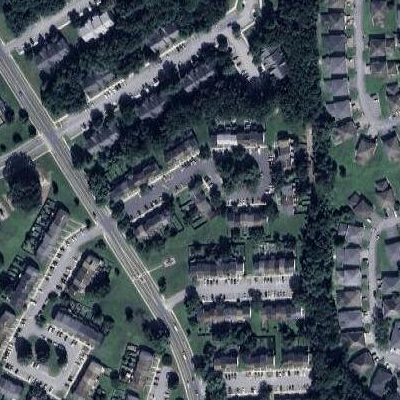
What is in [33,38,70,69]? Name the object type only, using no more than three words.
building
